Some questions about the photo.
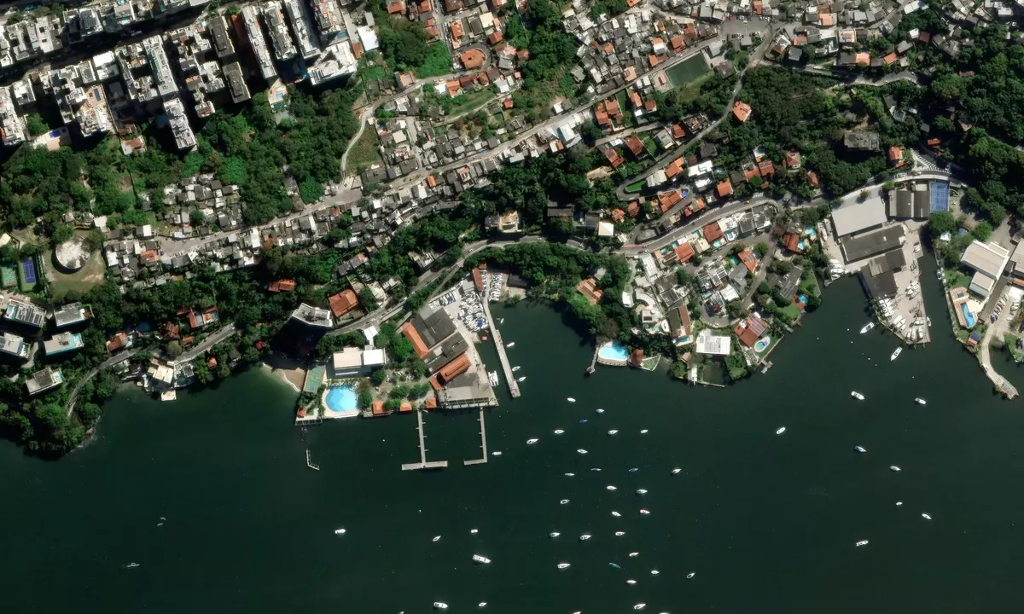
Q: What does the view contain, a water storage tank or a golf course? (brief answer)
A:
water storage tank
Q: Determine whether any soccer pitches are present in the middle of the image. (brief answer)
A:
No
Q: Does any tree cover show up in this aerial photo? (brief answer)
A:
Yes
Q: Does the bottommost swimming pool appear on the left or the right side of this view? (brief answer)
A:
left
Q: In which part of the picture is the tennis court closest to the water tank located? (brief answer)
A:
left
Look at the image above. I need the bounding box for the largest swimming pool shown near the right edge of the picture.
[950,288,981,328]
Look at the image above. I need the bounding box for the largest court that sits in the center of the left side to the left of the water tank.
[18,256,40,292]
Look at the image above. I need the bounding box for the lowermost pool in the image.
[322,381,359,419]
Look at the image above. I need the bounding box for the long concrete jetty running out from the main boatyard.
[483,297,520,397]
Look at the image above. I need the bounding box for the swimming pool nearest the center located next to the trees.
[597,342,629,366]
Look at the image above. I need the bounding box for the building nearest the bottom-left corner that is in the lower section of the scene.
[26,367,63,396]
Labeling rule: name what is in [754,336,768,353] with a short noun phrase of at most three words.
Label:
swimming pool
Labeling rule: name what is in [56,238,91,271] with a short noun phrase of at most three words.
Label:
water tank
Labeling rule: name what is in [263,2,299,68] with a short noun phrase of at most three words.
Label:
building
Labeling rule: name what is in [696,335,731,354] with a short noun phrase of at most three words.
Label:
house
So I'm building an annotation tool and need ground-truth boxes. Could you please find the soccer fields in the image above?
[665,50,711,89]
